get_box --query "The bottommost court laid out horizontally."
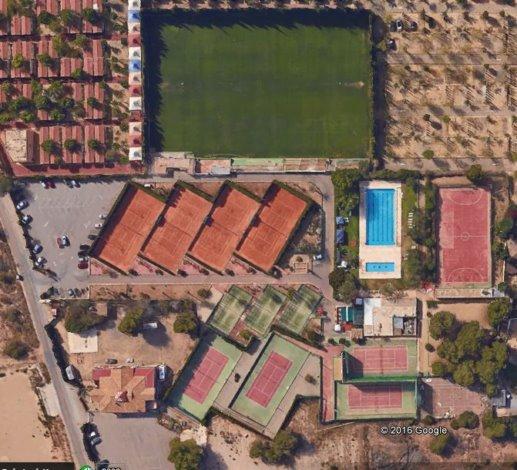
[337,382,419,420]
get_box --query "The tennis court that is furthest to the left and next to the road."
[90,183,166,275]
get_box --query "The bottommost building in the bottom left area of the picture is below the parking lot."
[90,369,157,413]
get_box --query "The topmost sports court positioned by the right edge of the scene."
[437,187,492,289]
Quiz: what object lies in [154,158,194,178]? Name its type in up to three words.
building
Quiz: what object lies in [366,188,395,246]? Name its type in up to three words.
swimming pool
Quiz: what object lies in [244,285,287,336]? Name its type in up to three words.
sports court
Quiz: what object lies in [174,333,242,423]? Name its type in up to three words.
tennis court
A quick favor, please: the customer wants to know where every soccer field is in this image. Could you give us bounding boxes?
[143,11,370,157]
